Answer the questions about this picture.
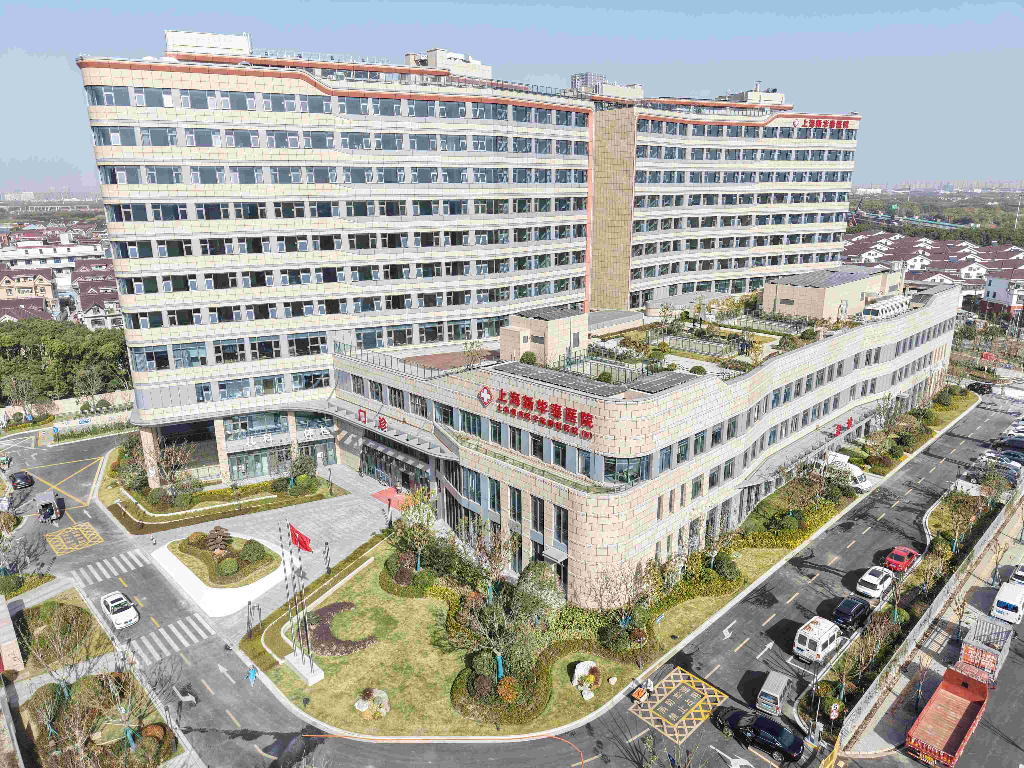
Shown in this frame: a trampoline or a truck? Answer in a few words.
truck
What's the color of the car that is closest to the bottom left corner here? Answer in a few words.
white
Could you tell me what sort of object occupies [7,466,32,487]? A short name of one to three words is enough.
car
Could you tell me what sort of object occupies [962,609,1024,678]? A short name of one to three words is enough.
truck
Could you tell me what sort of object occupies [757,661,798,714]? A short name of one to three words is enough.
van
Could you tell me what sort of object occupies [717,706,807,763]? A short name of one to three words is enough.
car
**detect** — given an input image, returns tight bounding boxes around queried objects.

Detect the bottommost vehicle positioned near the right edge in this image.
[905,657,1000,768]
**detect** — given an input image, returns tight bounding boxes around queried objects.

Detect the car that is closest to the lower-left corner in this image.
[100,587,138,627]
